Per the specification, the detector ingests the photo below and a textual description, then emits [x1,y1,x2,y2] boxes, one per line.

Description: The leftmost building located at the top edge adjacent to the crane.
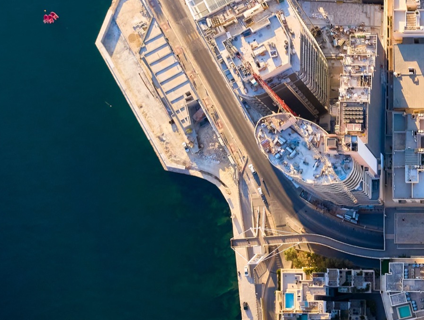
[196,0,330,114]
